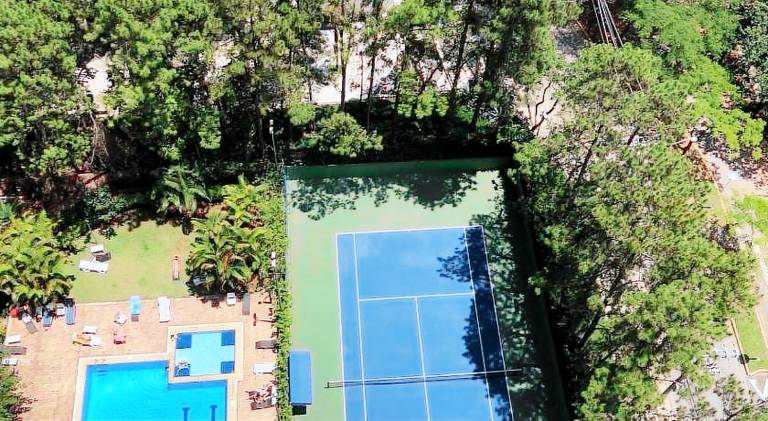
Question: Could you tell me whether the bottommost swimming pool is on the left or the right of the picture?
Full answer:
You can find the bottommost swimming pool on the left side of the picture.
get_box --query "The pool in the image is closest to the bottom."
[70,354,238,421]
